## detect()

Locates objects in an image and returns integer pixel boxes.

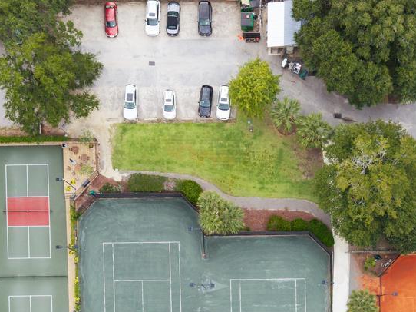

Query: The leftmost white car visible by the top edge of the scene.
[145,1,162,36]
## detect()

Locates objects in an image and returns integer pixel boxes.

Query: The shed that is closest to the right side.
[267,0,305,56]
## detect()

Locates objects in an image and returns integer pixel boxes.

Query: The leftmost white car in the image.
[122,85,139,120]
